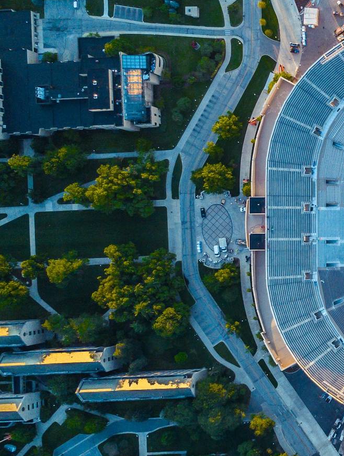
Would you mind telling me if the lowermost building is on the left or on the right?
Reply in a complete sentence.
You can find the lowermost building on the left side of the picture.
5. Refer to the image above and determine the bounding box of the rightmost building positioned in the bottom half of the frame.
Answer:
[75,372,205,404]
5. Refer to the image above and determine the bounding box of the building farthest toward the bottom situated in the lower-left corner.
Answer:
[0,392,40,424]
